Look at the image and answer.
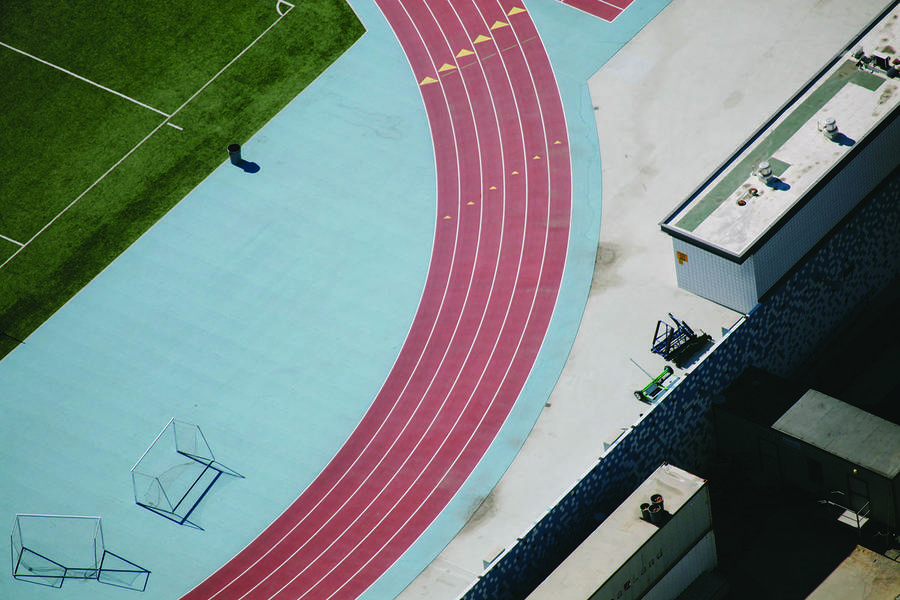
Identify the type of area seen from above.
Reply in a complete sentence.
What you see here is a sports ground.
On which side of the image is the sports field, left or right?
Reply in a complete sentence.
You can find the sports field on the left side of the picture.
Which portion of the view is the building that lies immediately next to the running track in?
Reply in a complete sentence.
The building that lies immediately next to the running track is in the top right part of the image.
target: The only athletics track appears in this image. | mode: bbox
[0,0,671,600]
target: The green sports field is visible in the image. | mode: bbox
[0,0,368,364]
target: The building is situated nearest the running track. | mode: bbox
[659,0,900,315]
